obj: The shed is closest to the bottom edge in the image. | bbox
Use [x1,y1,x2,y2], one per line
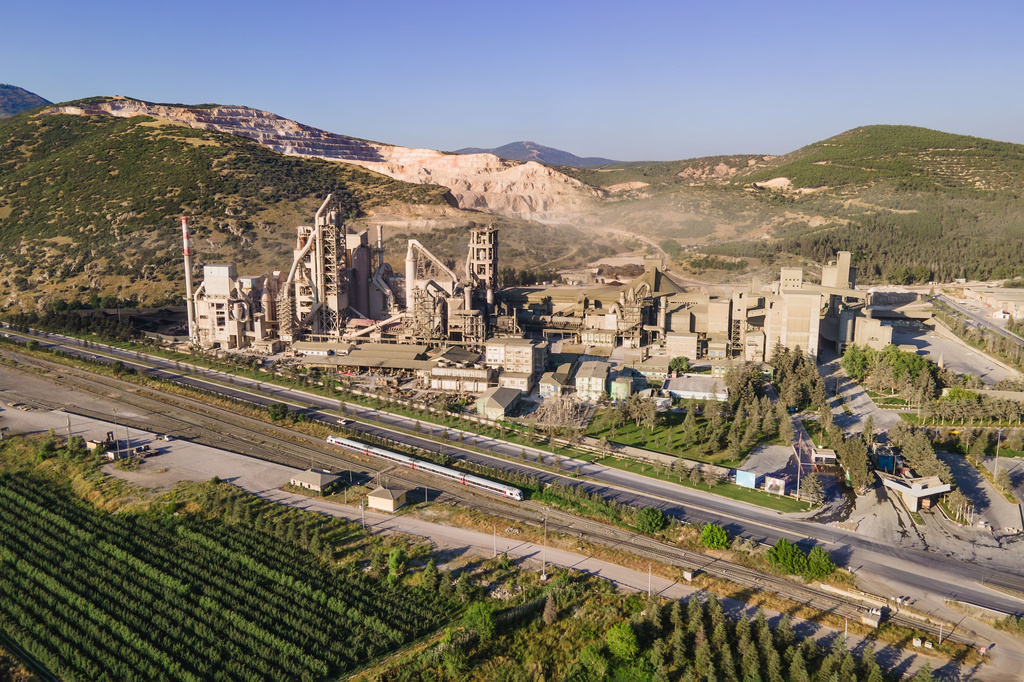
[862,599,898,628]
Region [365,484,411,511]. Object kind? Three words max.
shed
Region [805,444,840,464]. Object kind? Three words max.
building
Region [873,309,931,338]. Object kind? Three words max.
shed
